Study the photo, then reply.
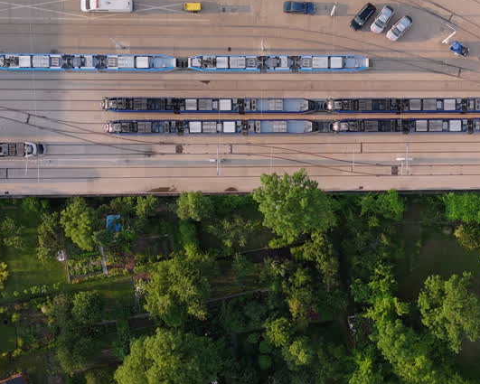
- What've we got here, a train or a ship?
train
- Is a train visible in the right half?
Yes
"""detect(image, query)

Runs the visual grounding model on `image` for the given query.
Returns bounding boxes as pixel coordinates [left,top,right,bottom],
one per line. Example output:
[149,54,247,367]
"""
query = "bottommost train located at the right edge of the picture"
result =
[325,117,480,136]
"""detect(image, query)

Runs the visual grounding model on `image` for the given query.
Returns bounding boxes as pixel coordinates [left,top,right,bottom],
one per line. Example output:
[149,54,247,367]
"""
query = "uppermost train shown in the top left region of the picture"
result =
[0,54,182,73]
